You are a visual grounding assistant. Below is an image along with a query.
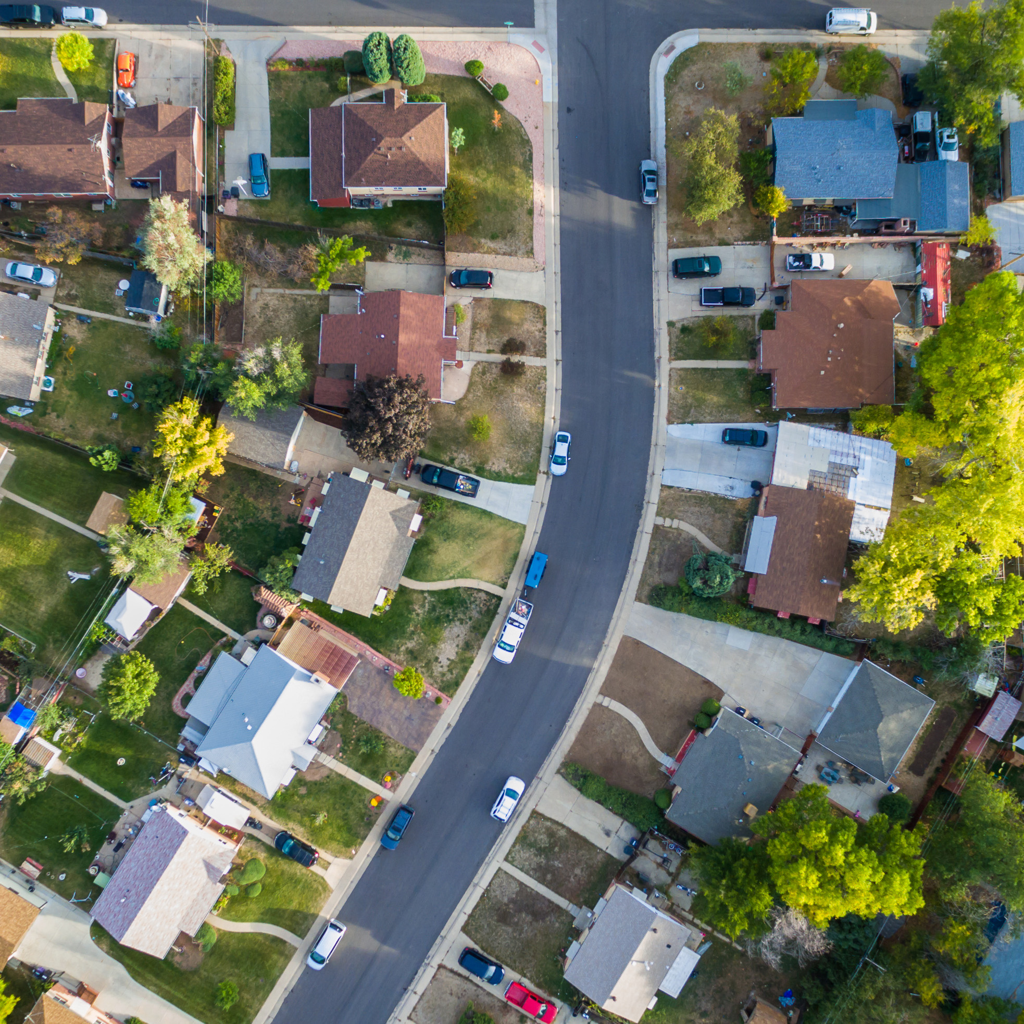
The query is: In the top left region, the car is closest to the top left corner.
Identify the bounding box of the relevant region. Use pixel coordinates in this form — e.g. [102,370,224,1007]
[0,2,56,28]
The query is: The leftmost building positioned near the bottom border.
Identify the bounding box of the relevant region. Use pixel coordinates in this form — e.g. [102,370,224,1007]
[0,868,48,974]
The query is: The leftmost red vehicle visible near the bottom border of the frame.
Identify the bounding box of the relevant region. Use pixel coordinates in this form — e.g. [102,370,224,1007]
[503,981,557,1024]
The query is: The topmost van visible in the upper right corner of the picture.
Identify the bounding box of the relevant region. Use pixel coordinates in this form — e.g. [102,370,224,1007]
[825,6,877,36]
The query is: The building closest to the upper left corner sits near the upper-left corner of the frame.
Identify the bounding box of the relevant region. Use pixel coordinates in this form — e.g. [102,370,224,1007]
[0,97,113,197]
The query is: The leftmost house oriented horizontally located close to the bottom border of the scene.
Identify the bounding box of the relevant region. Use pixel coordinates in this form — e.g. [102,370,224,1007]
[28,980,124,1024]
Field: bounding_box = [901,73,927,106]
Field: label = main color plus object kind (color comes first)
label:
black car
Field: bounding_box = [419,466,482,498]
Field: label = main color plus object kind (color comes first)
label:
black truck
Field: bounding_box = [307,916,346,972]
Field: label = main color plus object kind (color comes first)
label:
white car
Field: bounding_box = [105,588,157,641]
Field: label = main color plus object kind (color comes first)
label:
white tent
